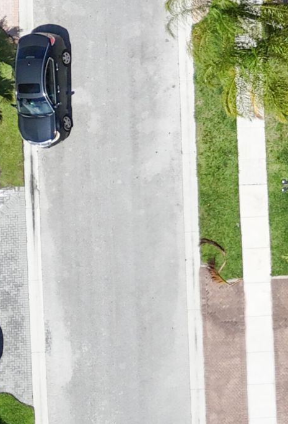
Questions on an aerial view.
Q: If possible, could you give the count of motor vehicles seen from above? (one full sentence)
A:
The picture shows 1 motor vehicle.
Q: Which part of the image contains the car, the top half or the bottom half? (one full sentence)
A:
Seen from above, the car lies in the top half of the view.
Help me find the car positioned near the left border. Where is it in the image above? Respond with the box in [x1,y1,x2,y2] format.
[12,33,74,148]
